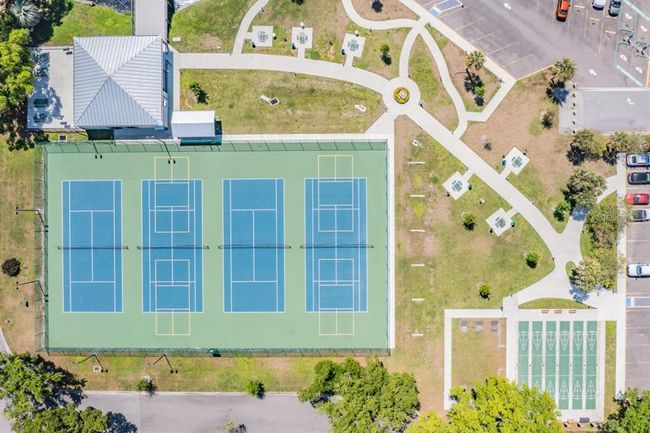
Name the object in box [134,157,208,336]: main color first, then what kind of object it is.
blue tennis court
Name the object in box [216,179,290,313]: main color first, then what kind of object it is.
blue tennis court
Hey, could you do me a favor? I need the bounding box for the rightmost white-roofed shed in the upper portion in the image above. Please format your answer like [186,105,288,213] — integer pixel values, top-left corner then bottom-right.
[171,110,220,145]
